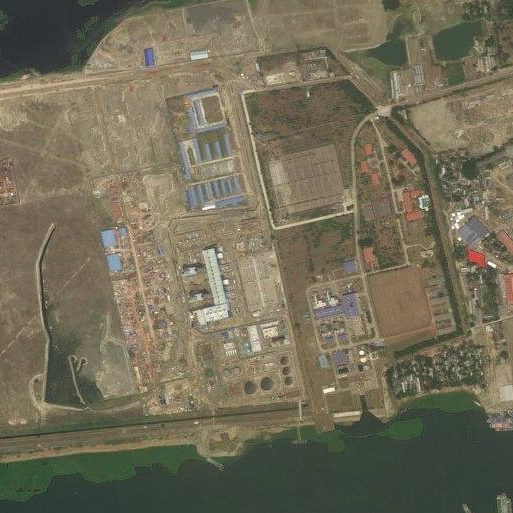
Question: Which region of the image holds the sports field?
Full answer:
Look in the right portion of the view to spot the sports field.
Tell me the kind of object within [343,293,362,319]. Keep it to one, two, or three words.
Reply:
building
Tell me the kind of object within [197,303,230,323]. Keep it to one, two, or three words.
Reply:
building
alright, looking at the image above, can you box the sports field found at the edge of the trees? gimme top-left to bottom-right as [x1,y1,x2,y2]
[369,267,433,340]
